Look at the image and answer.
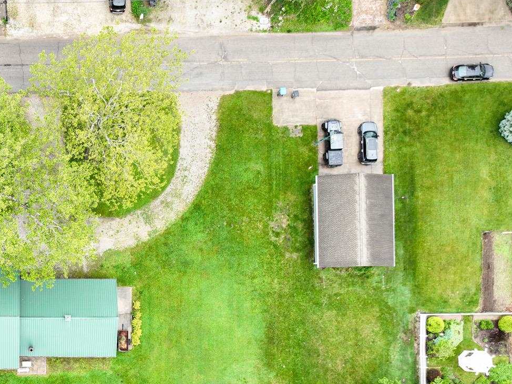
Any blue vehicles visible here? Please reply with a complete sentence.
No, there isn't any blue vehicle down there.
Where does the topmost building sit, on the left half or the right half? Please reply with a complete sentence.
The topmost building sits on the right side.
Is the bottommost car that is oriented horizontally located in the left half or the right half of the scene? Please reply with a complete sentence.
It is on the right.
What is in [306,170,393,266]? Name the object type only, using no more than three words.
building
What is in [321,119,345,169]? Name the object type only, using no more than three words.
truck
